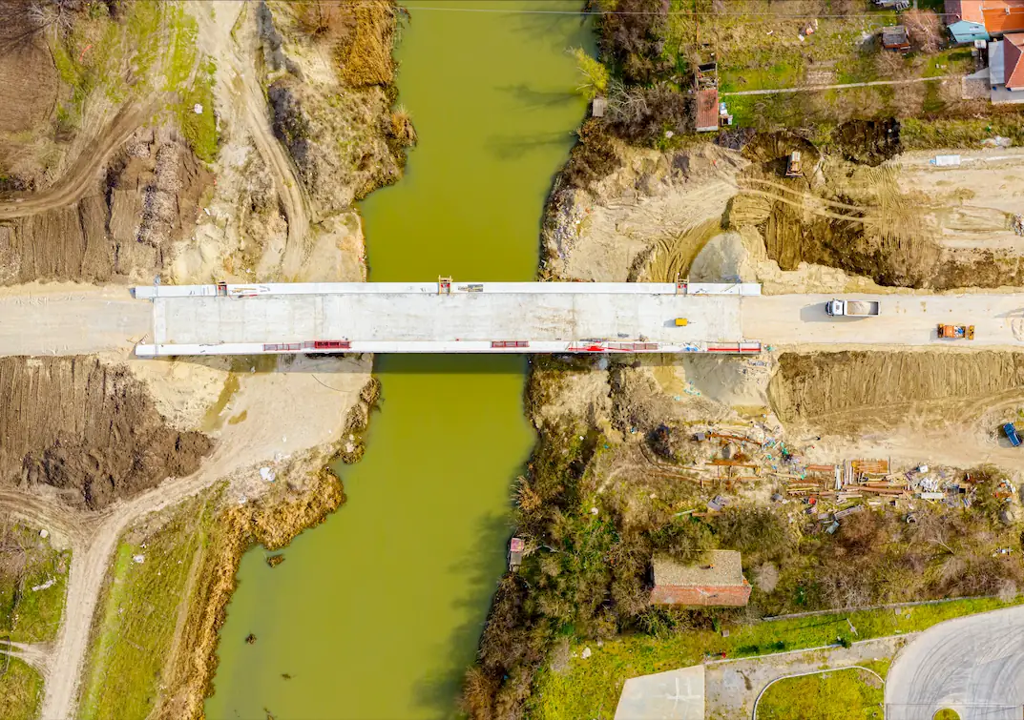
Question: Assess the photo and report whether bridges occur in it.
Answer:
Yes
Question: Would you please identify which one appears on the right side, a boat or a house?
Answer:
house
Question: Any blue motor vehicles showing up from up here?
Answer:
Yes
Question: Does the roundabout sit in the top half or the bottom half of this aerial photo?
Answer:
bottom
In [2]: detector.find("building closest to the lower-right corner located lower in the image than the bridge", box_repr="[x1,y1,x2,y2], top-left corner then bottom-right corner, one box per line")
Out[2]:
[649,549,752,606]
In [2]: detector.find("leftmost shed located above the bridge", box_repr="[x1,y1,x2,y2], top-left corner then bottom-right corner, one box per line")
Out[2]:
[591,97,607,123]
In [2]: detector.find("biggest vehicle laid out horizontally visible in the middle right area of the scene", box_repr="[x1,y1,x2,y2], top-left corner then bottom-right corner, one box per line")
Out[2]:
[819,297,881,319]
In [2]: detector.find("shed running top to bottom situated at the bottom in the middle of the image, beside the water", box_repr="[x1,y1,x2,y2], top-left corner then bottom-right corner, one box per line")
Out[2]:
[511,534,523,565]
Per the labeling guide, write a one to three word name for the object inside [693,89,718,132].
shed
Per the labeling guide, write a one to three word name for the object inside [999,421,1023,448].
truck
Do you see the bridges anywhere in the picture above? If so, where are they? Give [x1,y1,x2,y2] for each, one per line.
[135,284,761,355]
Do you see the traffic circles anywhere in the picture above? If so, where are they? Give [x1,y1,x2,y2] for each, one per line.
[884,606,1024,720]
